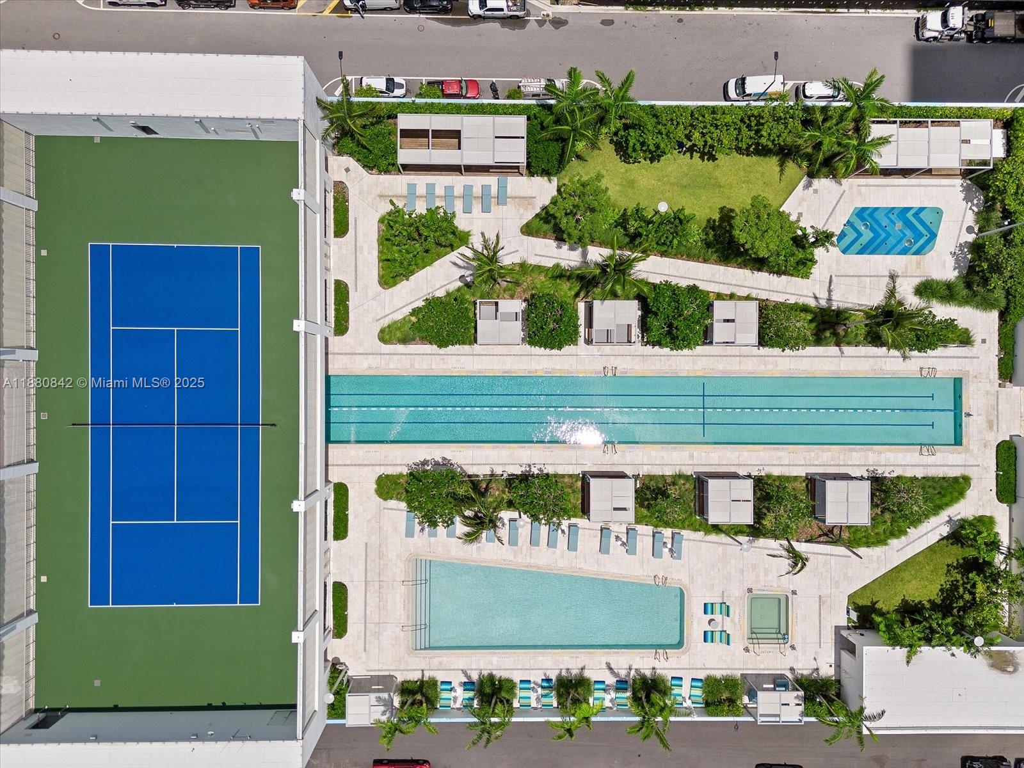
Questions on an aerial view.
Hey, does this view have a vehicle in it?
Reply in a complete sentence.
Yes, you can see a vehicle in this photo.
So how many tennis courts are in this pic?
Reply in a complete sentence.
In total, there is 1 tennis court in the scene.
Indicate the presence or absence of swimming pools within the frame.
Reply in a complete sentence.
Yes, looking at the shot, I can spot a swimming pool.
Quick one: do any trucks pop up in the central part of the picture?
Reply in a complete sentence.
No, there's no truck to be seen in the central part of the picture.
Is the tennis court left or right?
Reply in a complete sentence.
The tennis court is on the left side of the image.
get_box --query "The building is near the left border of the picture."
[0,49,336,768]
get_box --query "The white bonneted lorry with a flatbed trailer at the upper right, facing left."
[916,3,1024,44]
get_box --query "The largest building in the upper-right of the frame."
[846,119,993,181]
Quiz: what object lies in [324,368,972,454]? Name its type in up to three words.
swimming pool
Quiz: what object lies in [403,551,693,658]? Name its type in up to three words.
swimming pool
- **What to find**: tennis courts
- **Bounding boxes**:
[34,136,298,711]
